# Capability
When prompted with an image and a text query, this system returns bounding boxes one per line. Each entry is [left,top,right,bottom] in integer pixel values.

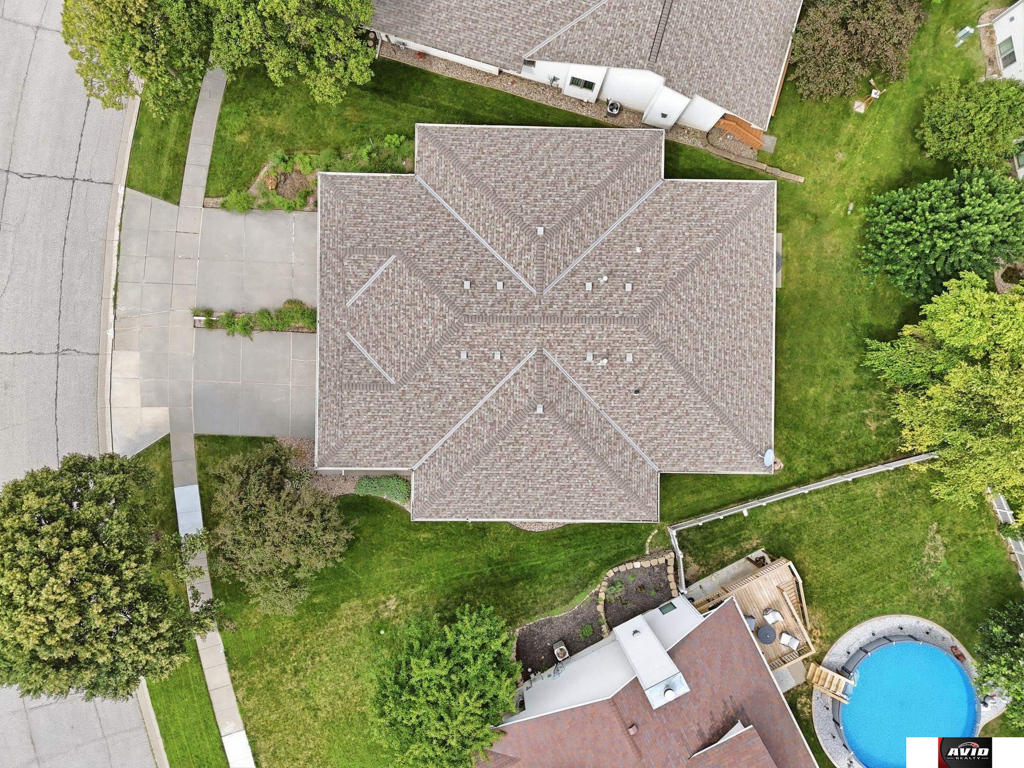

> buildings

[357,0,803,132]
[439,595,833,768]
[976,0,1024,83]
[312,123,780,526]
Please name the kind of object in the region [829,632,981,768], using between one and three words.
swimming pool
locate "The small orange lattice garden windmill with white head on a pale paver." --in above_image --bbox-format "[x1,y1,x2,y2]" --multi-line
[854,77,890,113]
